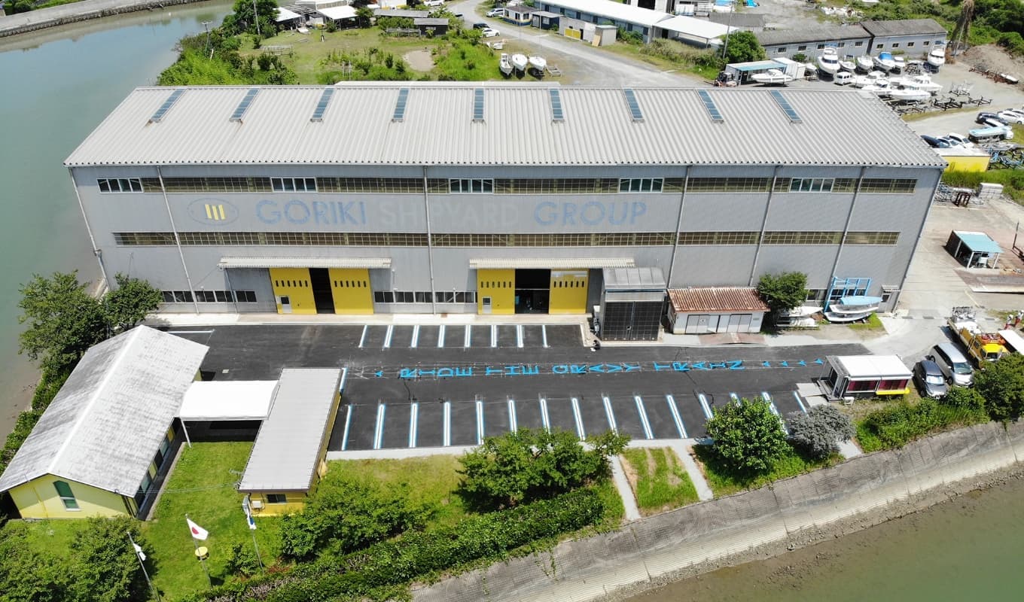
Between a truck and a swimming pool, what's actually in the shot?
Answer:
truck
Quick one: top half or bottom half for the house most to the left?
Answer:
bottom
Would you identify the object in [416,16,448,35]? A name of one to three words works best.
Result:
shed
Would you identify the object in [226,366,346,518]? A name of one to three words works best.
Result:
building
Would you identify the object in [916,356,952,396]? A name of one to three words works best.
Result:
car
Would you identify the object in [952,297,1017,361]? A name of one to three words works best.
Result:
truck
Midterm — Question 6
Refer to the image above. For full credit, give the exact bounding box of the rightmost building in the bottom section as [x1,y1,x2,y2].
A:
[812,354,916,404]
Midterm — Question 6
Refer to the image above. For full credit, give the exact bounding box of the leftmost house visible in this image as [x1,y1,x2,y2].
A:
[0,328,219,525]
